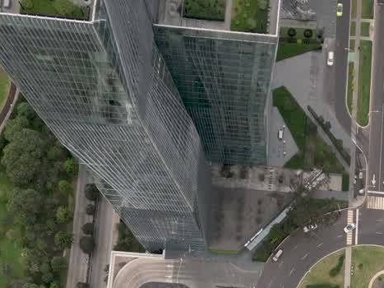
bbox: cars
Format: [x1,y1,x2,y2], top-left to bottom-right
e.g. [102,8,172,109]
[273,249,283,261]
[342,222,357,233]
[302,223,317,233]
[336,3,343,16]
[328,51,334,65]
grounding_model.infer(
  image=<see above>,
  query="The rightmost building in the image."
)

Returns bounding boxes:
[157,0,280,166]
